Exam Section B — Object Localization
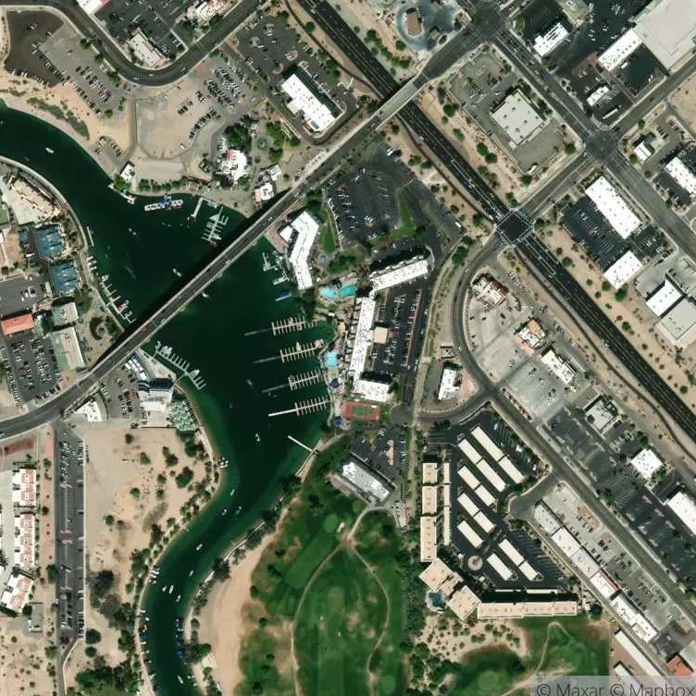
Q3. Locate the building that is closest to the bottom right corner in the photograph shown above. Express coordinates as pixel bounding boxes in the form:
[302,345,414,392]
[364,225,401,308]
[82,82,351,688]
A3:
[667,656,694,682]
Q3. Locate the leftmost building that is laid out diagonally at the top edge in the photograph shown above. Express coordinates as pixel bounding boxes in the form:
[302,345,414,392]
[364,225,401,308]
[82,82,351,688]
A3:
[129,31,164,67]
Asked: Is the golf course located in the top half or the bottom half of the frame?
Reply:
bottom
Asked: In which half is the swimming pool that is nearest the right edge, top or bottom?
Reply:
bottom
